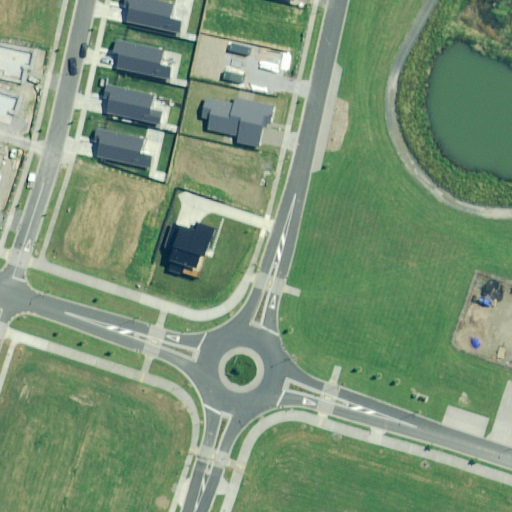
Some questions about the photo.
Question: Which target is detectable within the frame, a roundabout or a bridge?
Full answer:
Visible in the photo is a roundabout.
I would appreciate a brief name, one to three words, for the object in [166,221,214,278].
house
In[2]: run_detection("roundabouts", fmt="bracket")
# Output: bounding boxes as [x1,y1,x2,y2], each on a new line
[132,262,349,474]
